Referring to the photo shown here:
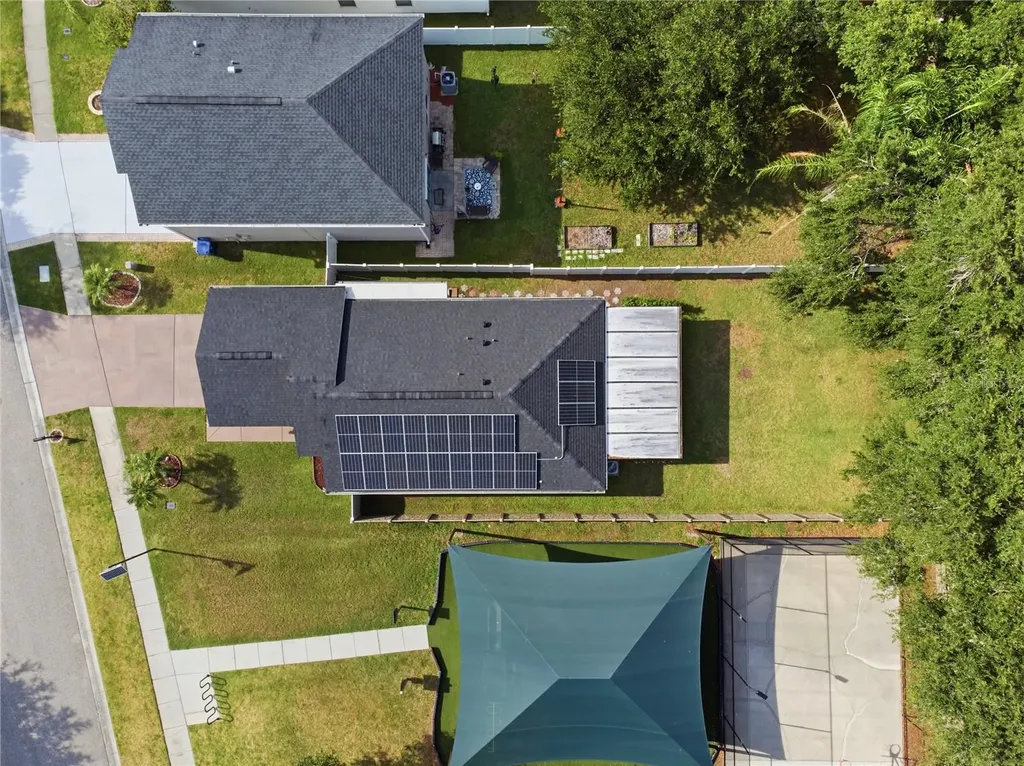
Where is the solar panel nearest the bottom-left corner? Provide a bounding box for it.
[97,563,127,583]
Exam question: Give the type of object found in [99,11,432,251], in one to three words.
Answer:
house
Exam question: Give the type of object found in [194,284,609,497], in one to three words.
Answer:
house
